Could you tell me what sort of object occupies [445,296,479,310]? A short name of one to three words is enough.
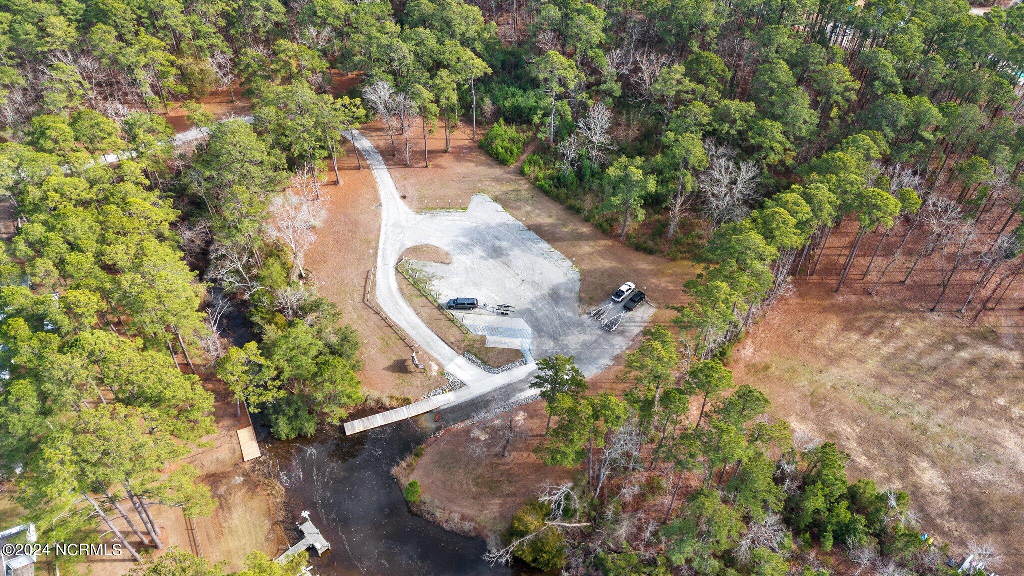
vehicle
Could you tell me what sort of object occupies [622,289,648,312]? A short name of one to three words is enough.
truck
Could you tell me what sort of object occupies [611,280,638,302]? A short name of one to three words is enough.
truck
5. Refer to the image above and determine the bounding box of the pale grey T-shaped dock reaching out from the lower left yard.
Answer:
[263,519,331,573]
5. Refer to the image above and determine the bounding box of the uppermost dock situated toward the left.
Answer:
[345,397,440,437]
